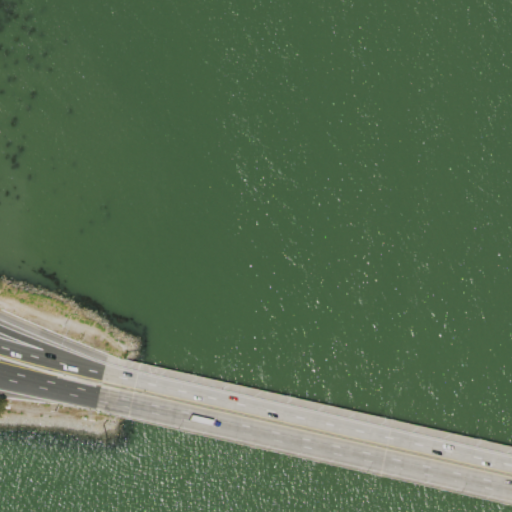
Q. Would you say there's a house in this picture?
No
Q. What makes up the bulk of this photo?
water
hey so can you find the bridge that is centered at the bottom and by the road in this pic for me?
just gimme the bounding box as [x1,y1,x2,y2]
[95,354,512,506]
